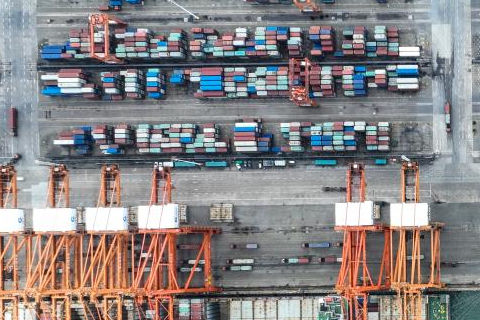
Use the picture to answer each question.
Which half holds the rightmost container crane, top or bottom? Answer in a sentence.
Seen from above, the rightmost container crane lies in the bottom half of the view.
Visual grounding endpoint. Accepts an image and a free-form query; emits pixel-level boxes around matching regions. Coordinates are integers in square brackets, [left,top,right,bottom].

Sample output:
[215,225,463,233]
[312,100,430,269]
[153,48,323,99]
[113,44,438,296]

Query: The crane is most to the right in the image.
[388,159,445,320]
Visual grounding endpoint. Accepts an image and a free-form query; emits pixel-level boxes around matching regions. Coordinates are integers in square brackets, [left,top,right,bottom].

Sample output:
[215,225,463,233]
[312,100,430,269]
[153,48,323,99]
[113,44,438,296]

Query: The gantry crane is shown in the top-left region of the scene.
[89,14,127,63]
